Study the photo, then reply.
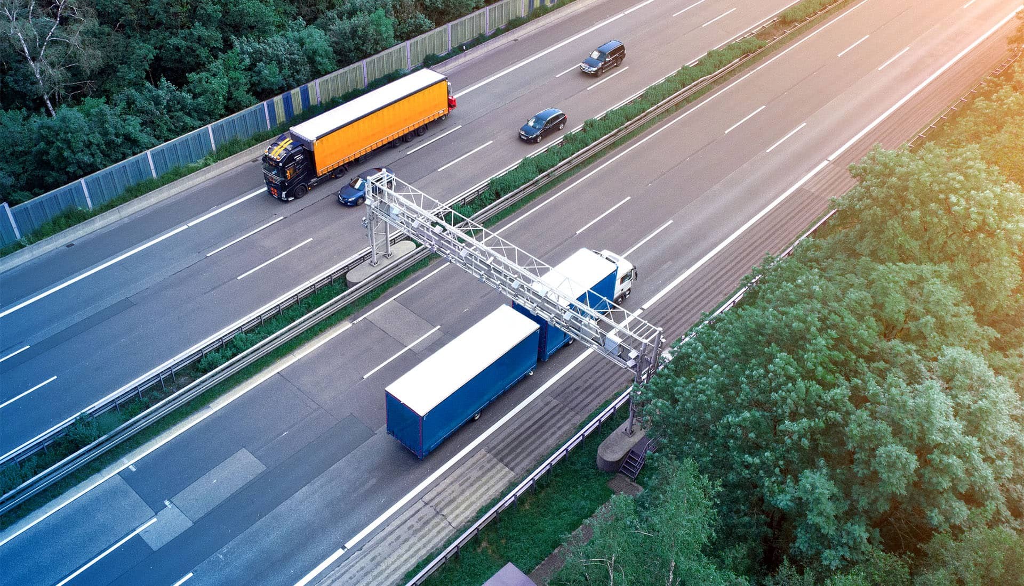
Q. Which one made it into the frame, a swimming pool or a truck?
truck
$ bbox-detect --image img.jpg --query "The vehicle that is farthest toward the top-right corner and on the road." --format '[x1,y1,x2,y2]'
[578,40,626,76]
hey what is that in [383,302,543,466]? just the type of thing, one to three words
trailer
